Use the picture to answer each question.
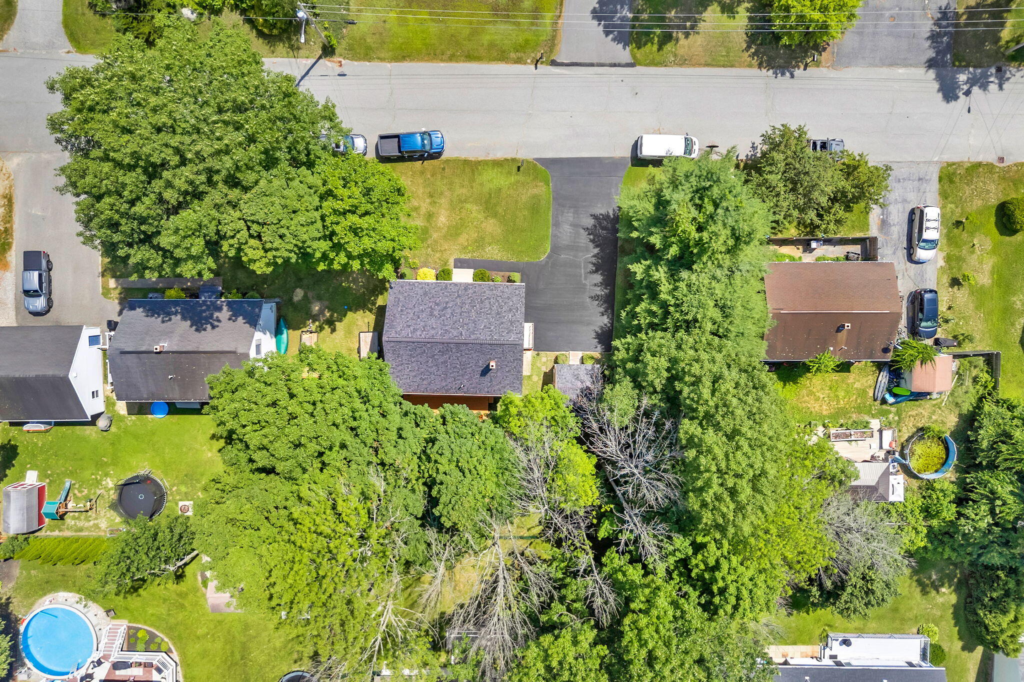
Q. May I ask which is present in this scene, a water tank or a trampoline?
trampoline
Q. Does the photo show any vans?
Yes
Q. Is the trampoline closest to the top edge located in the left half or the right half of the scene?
left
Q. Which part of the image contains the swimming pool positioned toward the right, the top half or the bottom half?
bottom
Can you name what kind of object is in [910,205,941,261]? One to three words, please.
car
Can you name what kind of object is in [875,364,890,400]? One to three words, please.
boat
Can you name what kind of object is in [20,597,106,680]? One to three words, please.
swimming pool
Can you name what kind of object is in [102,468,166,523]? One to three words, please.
trampoline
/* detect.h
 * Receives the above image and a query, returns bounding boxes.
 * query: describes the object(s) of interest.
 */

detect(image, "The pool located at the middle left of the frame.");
[149,402,168,419]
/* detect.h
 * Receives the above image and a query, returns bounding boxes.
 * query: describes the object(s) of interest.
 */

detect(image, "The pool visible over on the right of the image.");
[900,430,957,480]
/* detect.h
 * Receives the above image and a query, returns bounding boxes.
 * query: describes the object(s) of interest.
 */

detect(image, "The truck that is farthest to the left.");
[16,250,51,313]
